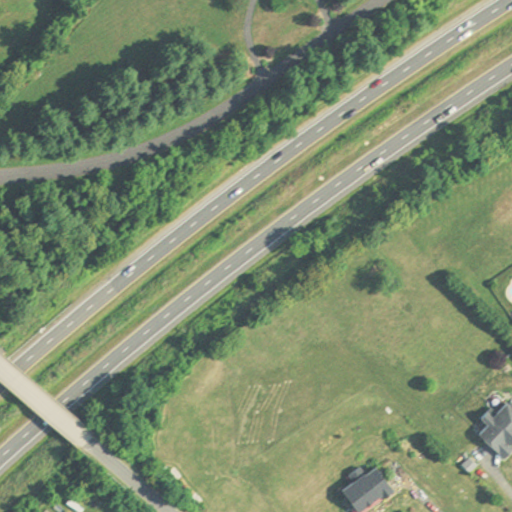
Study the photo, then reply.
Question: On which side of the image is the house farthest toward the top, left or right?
right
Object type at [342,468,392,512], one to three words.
house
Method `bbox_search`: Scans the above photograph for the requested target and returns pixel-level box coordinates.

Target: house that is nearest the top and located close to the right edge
[480,404,512,459]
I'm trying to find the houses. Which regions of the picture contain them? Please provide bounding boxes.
[342,468,392,512]
[480,404,512,459]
